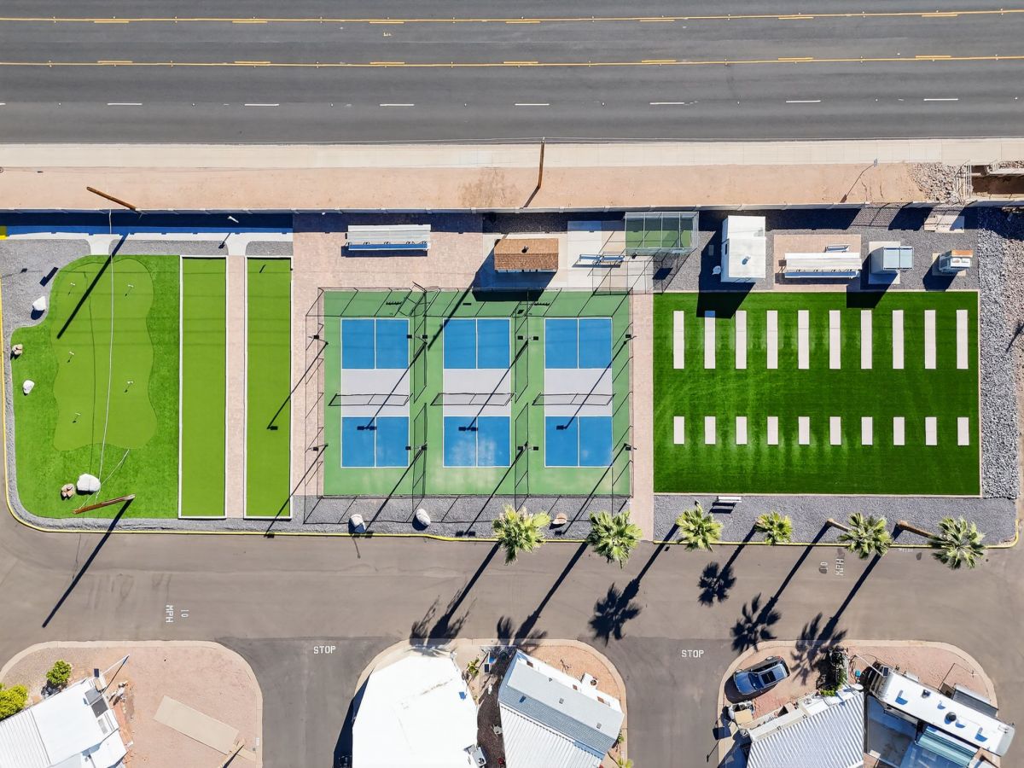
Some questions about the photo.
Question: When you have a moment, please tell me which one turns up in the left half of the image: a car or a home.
home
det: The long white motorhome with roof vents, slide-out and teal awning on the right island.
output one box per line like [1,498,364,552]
[859,658,1013,768]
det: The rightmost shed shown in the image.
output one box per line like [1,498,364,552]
[869,246,914,273]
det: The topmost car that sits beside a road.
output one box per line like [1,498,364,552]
[734,656,789,693]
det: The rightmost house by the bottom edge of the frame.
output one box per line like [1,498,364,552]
[739,676,866,768]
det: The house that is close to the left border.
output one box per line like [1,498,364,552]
[0,669,136,768]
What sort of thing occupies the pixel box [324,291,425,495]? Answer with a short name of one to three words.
sports court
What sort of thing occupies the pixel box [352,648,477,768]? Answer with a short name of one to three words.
house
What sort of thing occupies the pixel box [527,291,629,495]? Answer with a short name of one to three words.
sports court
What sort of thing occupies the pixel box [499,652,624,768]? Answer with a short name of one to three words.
house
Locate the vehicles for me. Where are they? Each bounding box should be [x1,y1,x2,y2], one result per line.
[734,656,789,693]
[725,699,753,725]
[859,658,1013,768]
